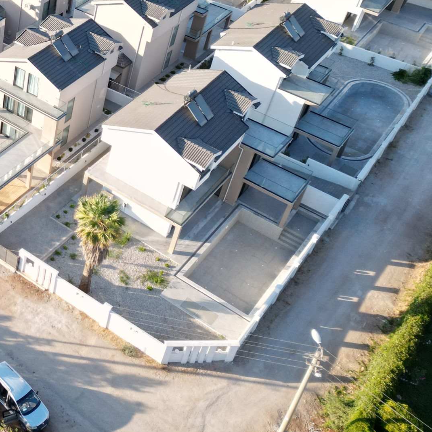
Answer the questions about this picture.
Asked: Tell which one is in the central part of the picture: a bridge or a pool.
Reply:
pool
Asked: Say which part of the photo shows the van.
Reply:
bottom left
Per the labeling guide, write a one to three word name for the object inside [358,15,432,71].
swimming pool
